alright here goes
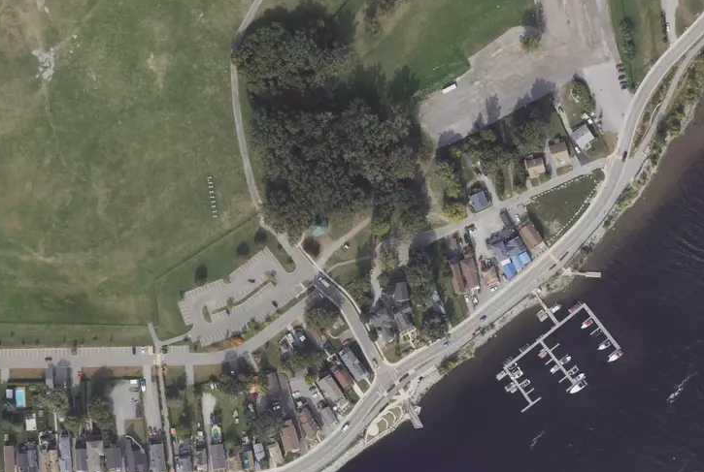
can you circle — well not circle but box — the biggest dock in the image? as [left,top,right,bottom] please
[502,301,621,413]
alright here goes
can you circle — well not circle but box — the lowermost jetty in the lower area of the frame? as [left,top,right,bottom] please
[405,397,423,429]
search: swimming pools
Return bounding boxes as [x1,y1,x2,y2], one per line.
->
[15,387,26,408]
[212,427,221,441]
